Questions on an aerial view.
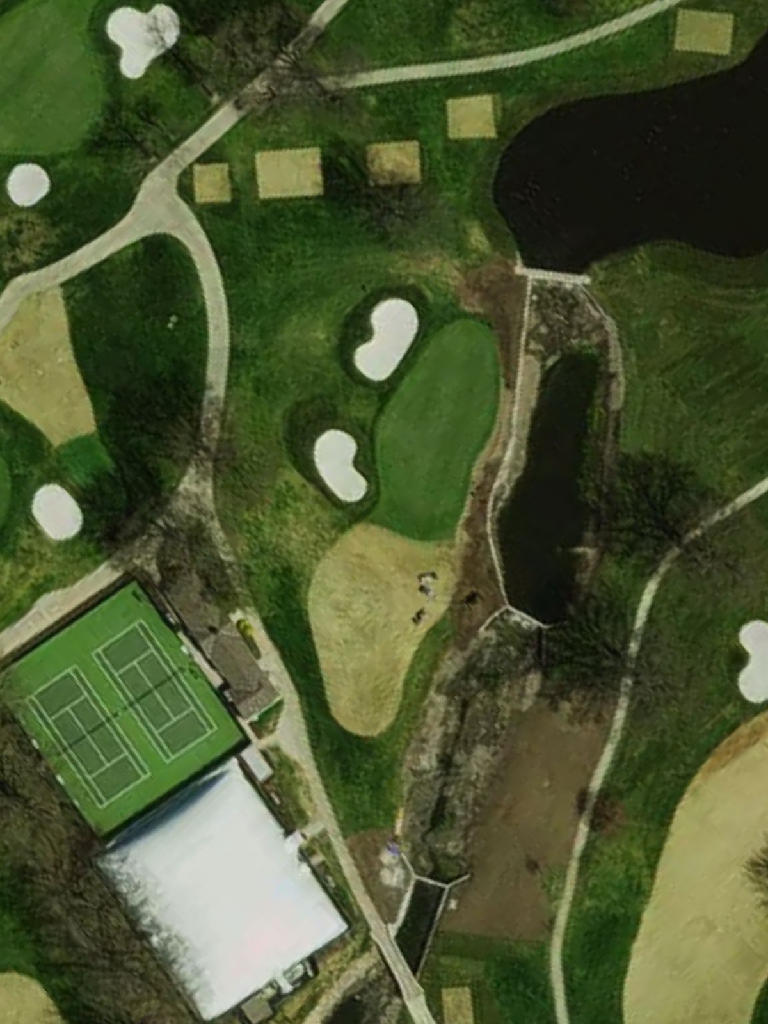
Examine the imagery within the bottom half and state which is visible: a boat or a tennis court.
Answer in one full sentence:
The one visible within the bottom half is a tennis court.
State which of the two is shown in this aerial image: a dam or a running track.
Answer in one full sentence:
This aerial view contains a dam.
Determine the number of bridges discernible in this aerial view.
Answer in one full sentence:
In total, 1 bridge can be seen.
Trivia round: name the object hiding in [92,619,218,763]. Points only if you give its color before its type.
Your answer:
green tennis court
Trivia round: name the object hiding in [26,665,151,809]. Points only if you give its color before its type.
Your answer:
green tennis court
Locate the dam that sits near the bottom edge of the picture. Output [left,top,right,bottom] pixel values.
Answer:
[390,853,470,975]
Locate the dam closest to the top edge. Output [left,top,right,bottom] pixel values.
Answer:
[514,252,595,285]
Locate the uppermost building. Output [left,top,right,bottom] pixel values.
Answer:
[173,584,282,720]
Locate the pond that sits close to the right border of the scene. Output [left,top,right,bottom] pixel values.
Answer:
[492,35,768,276]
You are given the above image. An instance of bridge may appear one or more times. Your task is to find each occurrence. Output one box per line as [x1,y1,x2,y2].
[371,926,424,1001]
